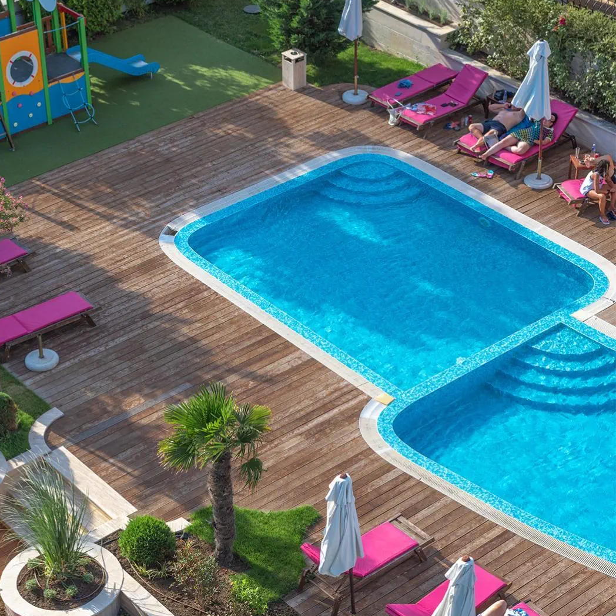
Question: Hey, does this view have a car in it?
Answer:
No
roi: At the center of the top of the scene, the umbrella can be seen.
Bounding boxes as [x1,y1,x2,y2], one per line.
[339,0,368,102]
